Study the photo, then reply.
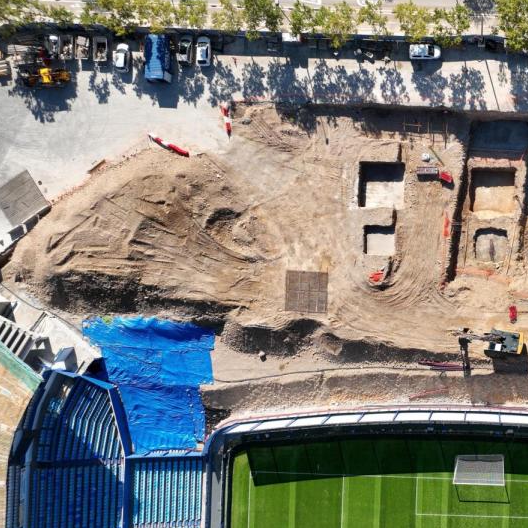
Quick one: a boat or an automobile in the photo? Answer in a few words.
automobile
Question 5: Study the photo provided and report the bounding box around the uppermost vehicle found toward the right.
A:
[409,43,442,60]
